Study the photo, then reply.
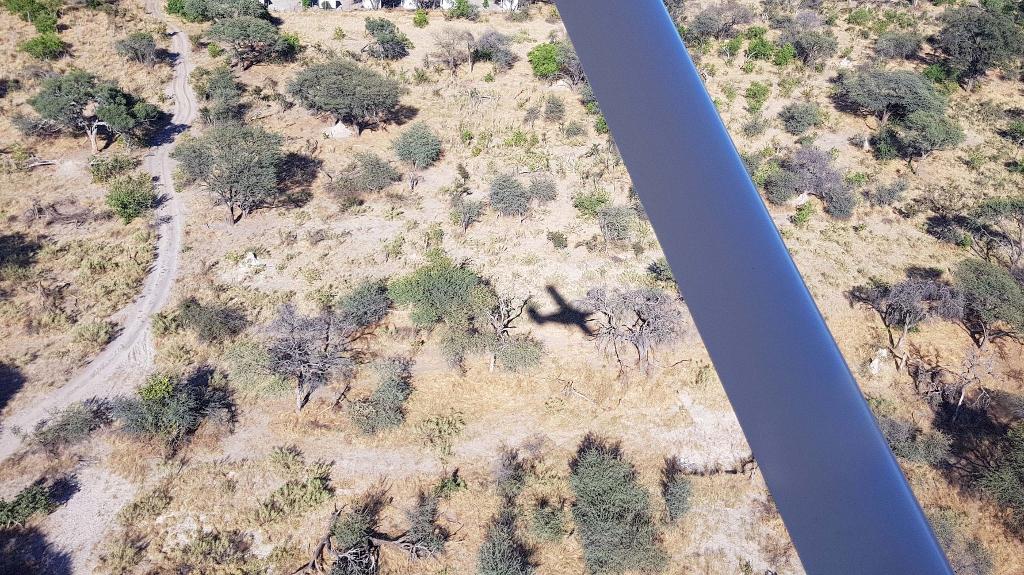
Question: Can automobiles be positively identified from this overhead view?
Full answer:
No, the frame has no automobile in it.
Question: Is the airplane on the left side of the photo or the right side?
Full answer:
You can find the airplane on the right side of the picture.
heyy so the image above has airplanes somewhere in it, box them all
[555,0,951,575]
